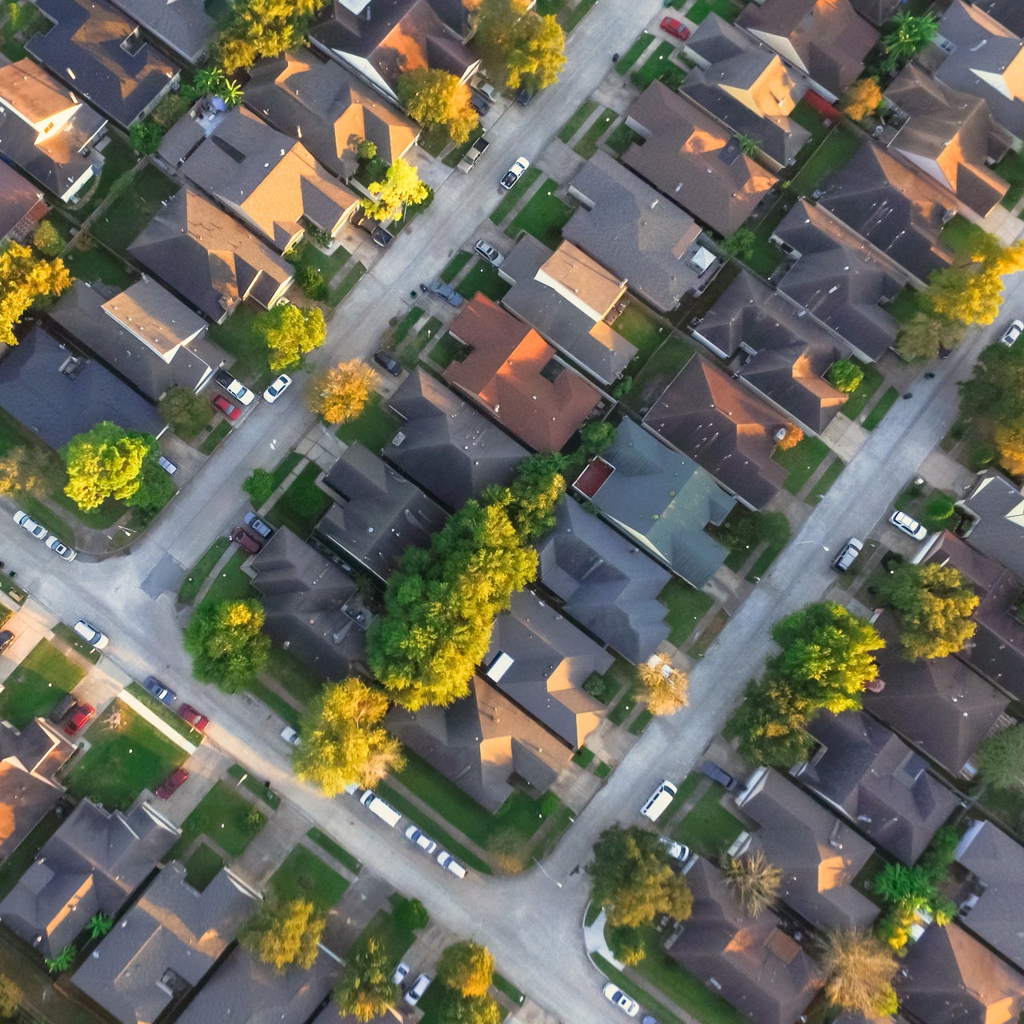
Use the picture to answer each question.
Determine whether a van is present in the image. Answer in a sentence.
Yes, a van is visible in the scene.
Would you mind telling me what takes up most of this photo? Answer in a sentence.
For the most part, this view shows buildings.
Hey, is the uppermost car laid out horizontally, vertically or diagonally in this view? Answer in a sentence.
In this picture, the uppermost car lies diagonally.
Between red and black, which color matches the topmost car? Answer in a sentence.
The topmost car is red.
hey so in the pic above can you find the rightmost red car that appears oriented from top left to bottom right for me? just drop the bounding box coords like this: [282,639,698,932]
[657,13,693,45]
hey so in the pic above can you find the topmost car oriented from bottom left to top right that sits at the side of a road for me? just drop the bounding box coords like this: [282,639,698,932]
[509,79,541,113]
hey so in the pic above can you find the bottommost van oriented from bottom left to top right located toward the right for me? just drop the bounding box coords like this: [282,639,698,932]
[639,779,676,822]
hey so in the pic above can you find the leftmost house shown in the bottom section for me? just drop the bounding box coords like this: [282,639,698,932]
[0,706,83,874]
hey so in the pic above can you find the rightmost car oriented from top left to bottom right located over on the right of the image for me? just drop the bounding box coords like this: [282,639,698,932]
[889,509,927,541]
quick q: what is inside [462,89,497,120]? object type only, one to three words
car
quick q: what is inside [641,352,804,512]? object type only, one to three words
house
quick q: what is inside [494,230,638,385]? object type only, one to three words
house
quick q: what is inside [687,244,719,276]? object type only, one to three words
gazebo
